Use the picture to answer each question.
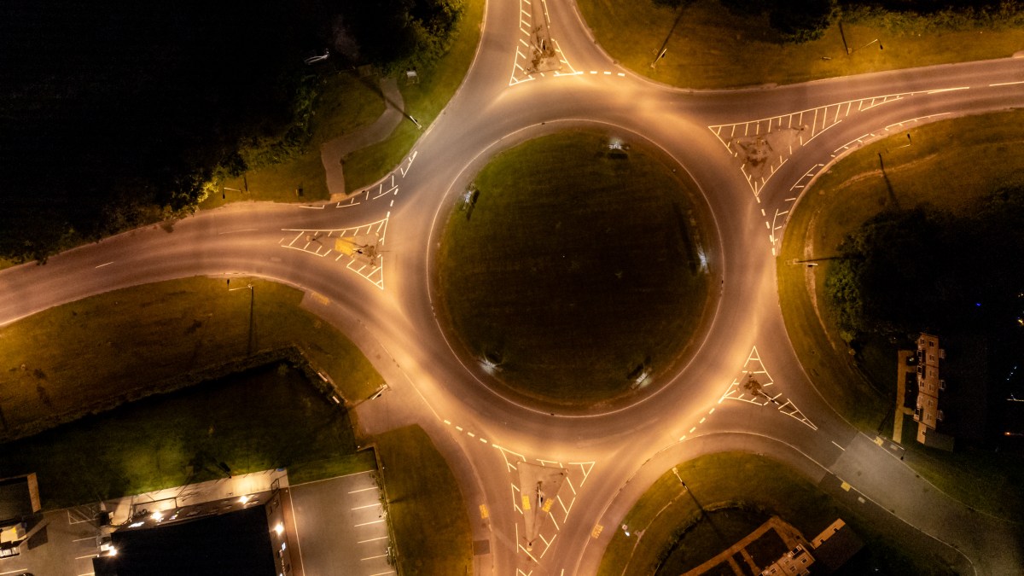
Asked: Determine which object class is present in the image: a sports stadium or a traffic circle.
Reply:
traffic circle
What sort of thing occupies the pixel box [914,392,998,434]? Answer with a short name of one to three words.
house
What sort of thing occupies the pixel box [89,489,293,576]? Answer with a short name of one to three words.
building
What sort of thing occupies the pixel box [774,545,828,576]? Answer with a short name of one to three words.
house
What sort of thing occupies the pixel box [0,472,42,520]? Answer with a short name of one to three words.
building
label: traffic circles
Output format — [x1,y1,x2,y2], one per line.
[379,72,771,464]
